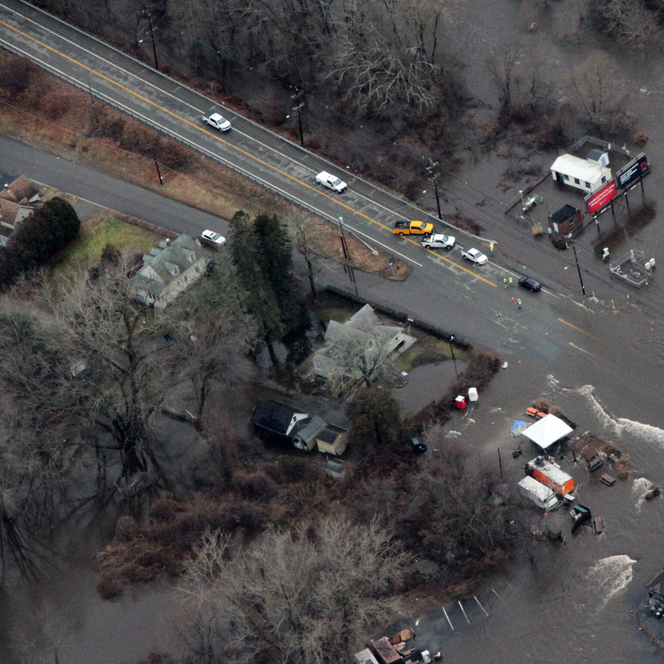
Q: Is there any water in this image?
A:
Yes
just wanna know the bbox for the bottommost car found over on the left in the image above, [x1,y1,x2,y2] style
[199,226,227,245]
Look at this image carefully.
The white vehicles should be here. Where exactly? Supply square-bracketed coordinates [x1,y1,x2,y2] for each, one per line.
[315,170,346,192]
[420,235,456,250]
[200,112,230,132]
[457,245,488,266]
[518,476,565,520]
[199,226,227,245]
